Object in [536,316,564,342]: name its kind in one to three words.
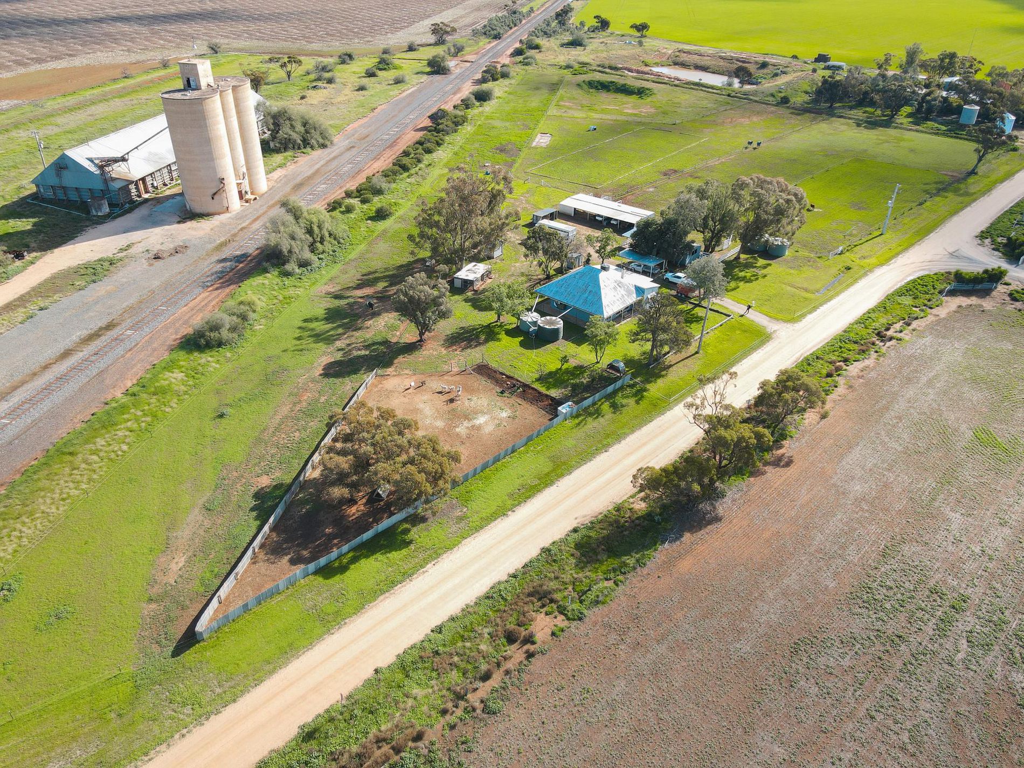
water tank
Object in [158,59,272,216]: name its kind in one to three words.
silo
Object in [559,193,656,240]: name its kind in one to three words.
shed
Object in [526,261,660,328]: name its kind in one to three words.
house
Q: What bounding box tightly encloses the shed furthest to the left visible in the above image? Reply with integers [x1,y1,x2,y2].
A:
[31,119,178,208]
